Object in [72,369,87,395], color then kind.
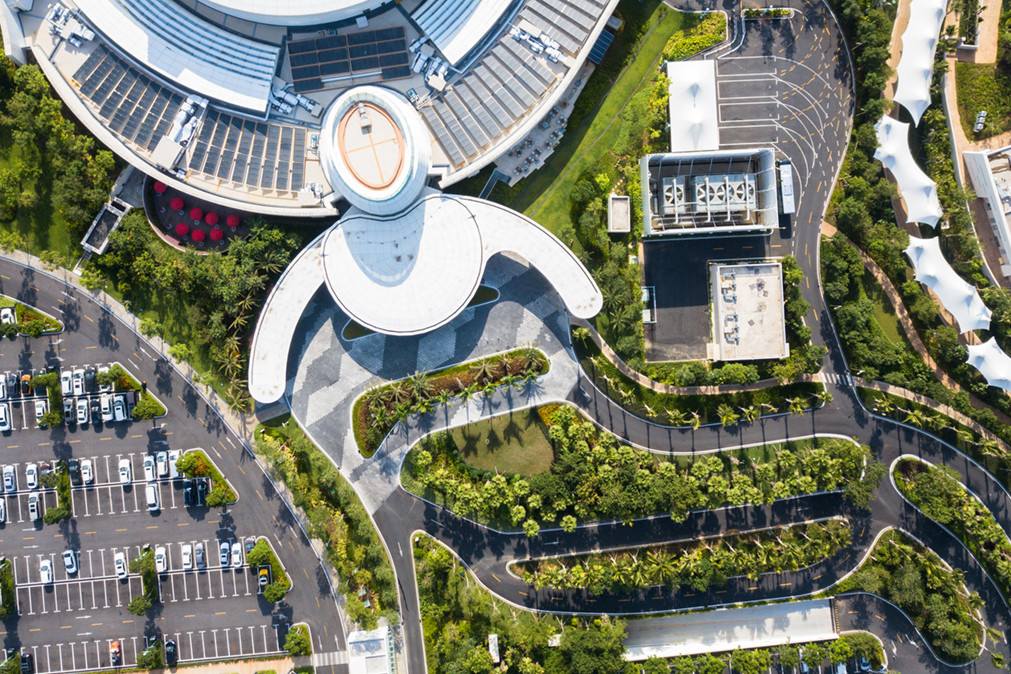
white car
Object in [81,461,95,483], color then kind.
white vehicle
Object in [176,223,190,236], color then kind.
red umbrella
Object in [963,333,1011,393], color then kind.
white tent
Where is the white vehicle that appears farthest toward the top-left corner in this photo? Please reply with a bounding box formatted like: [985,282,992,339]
[2,303,17,327]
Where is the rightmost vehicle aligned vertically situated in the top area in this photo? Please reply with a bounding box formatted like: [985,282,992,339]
[774,164,795,216]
